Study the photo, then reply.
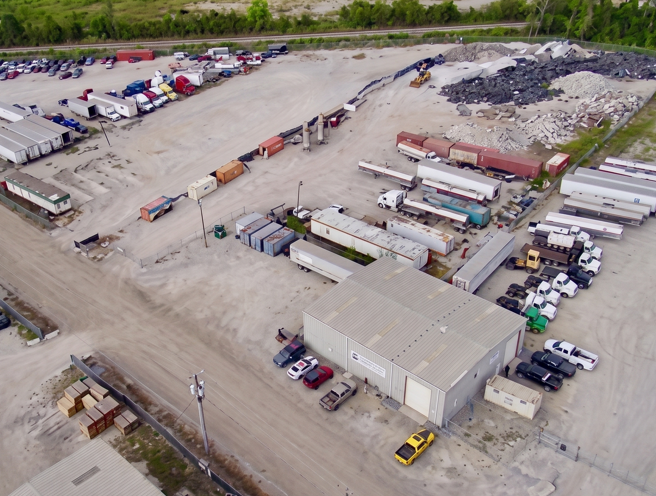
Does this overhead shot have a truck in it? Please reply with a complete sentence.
Yes, a truck is visible in the scene.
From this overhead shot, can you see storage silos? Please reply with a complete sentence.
Yes, the photo shows a storage silo.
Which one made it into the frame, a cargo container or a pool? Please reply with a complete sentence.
There is a cargo container in the scene.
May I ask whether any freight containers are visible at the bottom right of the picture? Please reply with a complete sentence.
Yes, a freight container appears at the bottom right of the picture.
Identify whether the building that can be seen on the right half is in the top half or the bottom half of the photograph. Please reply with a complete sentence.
You can find the building that can be seen on the right half in the bottom half.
